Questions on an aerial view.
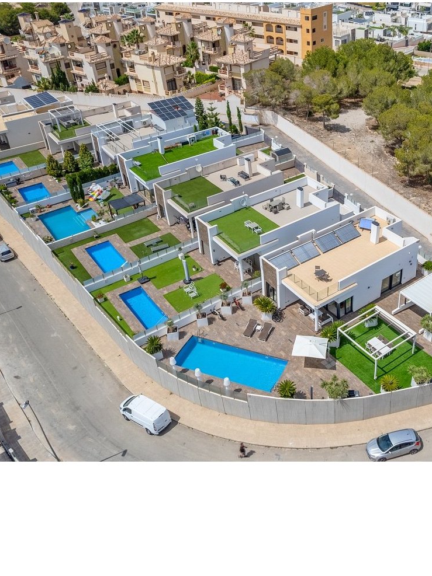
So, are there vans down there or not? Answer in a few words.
Yes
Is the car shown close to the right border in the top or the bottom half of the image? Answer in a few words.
bottom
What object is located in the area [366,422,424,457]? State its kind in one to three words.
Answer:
car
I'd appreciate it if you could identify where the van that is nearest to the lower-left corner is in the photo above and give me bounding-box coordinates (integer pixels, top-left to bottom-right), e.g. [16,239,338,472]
[117,395,177,437]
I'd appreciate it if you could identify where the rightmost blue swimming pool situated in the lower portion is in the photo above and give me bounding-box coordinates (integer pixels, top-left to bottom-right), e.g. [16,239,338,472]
[177,331,288,392]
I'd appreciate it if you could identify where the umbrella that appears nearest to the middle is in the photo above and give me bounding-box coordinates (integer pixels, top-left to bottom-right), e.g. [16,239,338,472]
[181,260,193,286]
